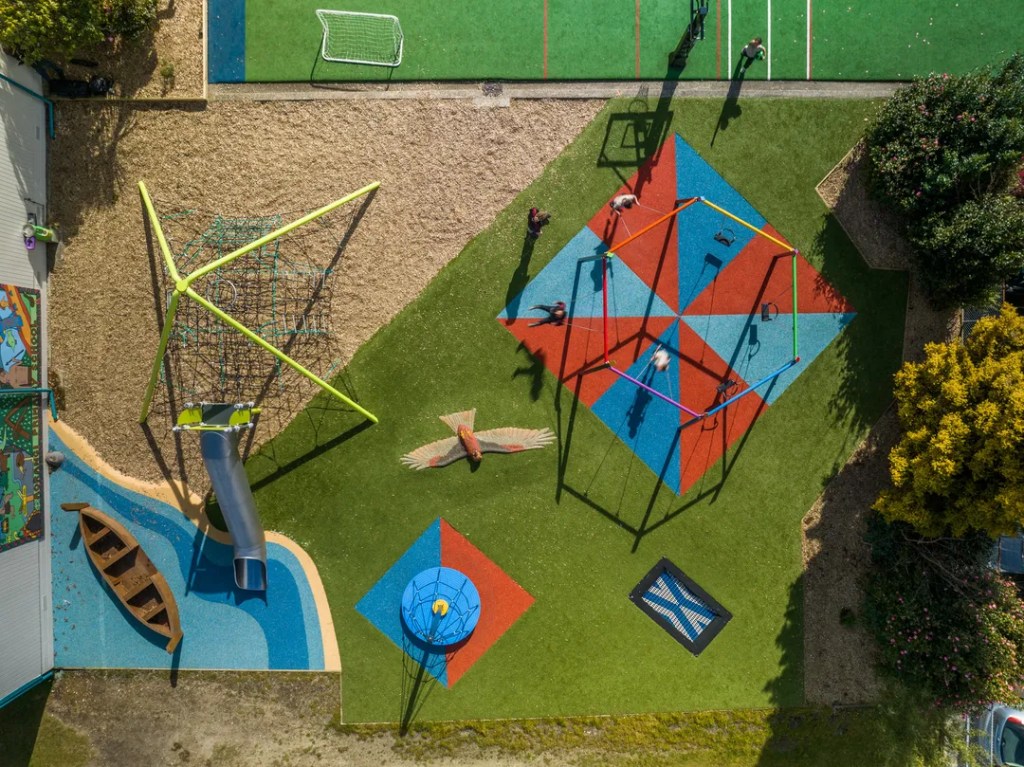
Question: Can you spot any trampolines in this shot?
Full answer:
Yes, a trampoline appears in the view.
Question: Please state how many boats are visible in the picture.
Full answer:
The photo contains exactly 1 boat.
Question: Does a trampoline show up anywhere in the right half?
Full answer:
Yes, a trampoline appears in the right half.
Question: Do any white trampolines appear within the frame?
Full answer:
No, the scene contains no white trampoline.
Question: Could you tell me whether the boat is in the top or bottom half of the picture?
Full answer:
The bottom half of the photo is where the boat is.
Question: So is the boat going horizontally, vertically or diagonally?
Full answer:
The boat runs diagonally in the image.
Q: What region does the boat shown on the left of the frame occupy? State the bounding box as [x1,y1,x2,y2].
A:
[59,500,188,653]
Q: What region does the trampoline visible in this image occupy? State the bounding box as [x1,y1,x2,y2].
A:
[629,558,732,654]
